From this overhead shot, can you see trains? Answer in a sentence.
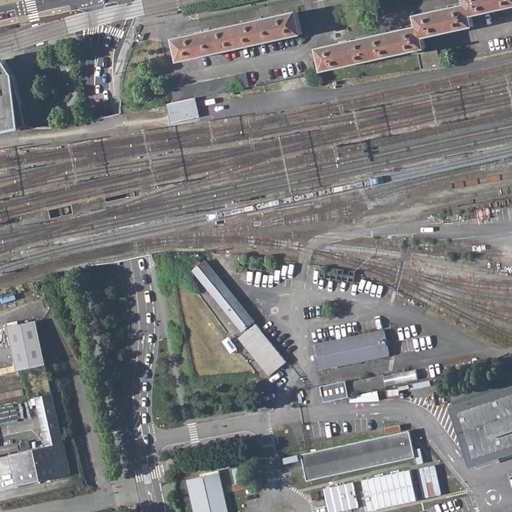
Yes, there's a train here.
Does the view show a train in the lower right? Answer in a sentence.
No, I can find no train in the lower right.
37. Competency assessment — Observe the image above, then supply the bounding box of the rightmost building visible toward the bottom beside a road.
[448,388,512,468]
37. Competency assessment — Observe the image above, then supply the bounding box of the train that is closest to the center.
[208,179,385,218]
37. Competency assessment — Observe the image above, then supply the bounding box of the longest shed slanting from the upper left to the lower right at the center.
[192,260,255,332]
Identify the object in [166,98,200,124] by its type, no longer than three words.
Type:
shed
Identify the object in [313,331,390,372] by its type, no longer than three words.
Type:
building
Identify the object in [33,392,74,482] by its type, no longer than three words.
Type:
building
